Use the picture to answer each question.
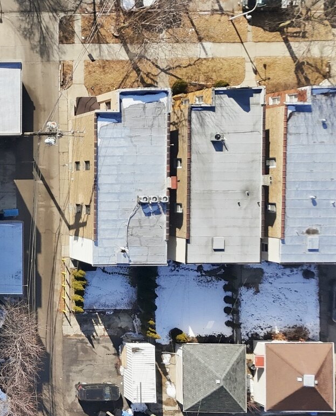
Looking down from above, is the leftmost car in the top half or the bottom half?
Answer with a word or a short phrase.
bottom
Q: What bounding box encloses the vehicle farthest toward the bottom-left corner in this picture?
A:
[75,382,119,404]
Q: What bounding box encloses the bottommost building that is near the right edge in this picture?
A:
[252,341,336,413]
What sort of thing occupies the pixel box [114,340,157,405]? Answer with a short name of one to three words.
shed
